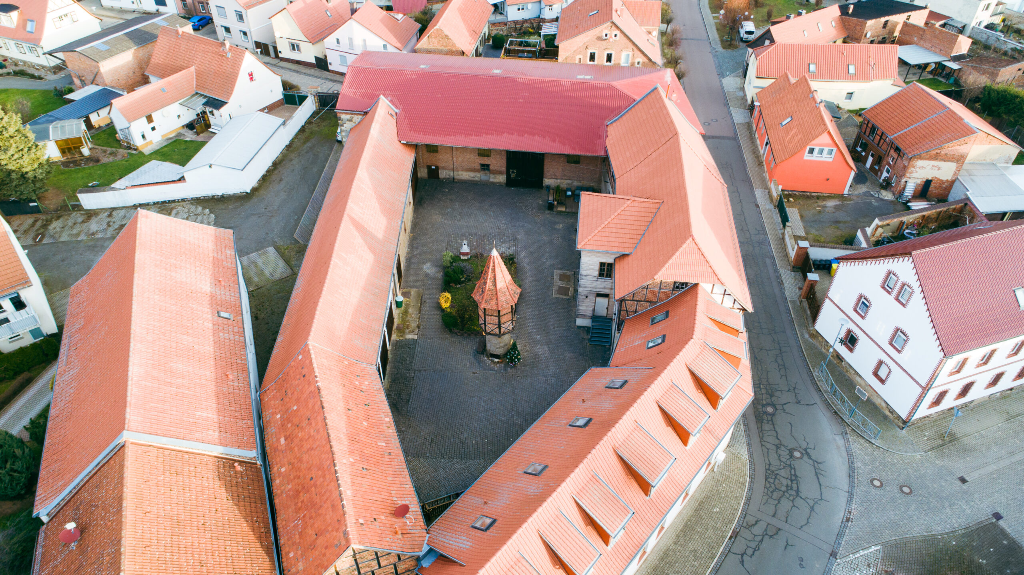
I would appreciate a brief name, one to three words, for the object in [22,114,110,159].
building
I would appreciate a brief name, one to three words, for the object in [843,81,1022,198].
house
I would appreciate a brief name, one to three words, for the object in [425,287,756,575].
building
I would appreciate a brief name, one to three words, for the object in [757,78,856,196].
house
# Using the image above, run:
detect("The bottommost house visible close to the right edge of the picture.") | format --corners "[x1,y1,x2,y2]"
[810,216,1024,428]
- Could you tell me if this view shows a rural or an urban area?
urban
